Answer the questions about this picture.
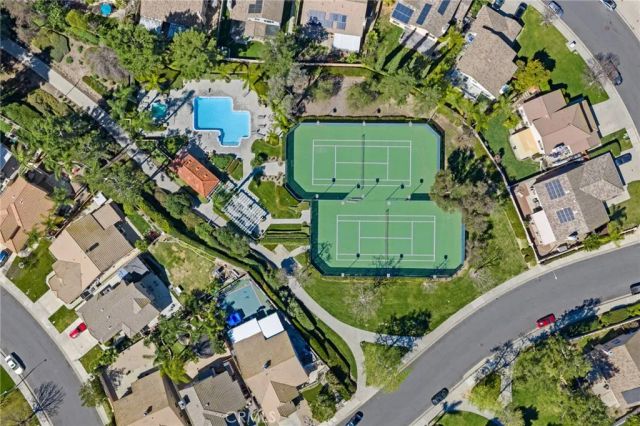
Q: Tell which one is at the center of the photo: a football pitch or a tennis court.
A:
tennis court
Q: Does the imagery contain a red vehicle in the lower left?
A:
Yes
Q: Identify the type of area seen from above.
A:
residential area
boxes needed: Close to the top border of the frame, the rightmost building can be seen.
[454,6,522,101]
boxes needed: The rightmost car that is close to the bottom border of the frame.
[431,387,449,405]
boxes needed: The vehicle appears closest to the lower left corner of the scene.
[5,354,23,373]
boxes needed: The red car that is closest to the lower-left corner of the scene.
[69,321,87,339]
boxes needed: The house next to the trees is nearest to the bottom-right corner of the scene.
[586,323,640,409]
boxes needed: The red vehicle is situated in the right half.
[534,314,555,329]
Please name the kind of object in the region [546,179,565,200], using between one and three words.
solar panel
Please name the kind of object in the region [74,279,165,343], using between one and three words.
house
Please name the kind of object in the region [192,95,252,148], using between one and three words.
swimming pool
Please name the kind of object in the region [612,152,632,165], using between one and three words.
vehicle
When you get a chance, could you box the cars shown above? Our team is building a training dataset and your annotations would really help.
[346,409,363,426]
[547,0,564,18]
[534,314,555,329]
[431,387,449,405]
[599,0,618,14]
[69,321,87,339]
[612,152,632,165]
[0,247,11,266]
[512,1,529,21]
[5,354,23,373]
[491,0,505,12]
[626,282,640,294]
